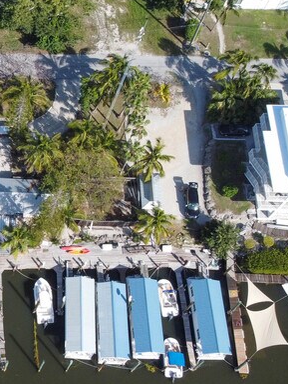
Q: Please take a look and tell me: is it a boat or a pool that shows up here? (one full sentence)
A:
There is a boat in the scene.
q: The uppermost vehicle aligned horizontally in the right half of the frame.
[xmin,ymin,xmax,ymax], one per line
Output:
[215,122,252,137]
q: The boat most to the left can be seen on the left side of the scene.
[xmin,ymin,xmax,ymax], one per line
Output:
[34,278,53,333]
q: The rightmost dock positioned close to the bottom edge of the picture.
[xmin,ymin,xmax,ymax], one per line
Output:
[225,255,250,373]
